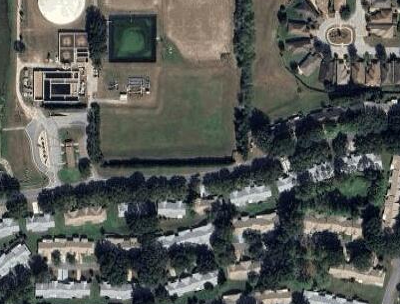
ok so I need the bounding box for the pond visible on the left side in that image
[106,12,159,65]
